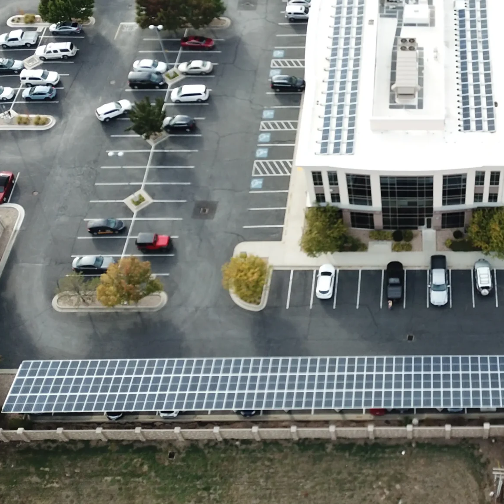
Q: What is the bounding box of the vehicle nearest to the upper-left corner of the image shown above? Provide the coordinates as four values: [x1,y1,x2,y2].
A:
[0,30,40,48]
